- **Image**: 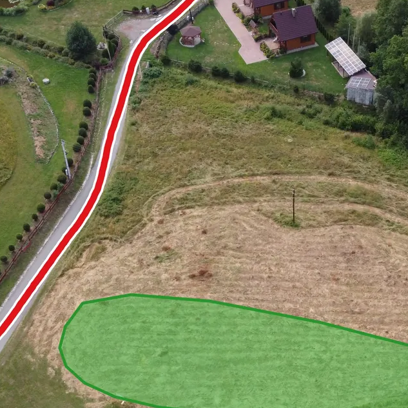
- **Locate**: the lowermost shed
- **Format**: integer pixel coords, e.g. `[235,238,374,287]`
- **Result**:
[346,69,382,103]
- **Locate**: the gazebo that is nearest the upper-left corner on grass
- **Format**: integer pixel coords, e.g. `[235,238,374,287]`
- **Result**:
[176,25,201,46]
